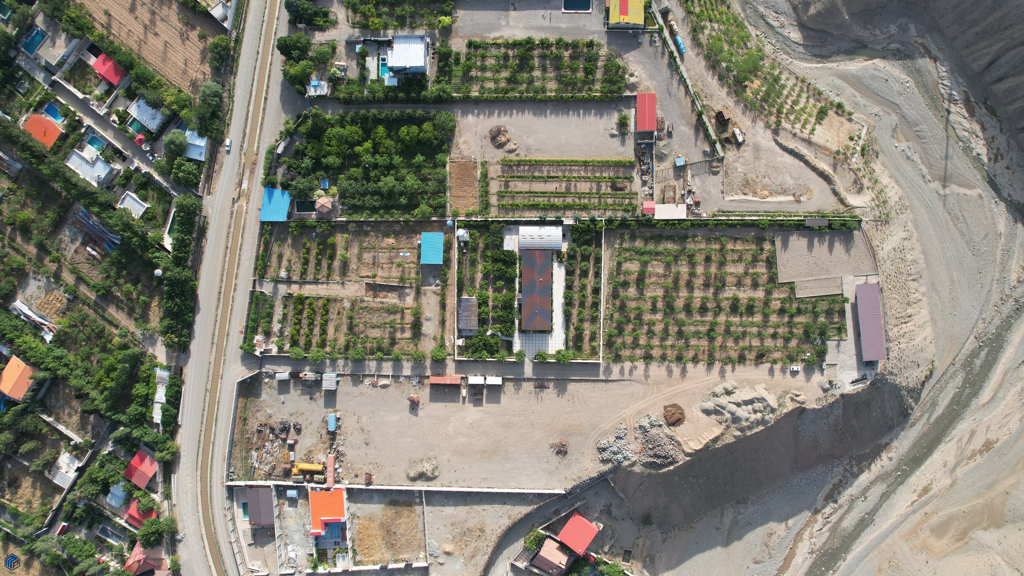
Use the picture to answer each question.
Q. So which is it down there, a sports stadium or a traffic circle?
sports stadium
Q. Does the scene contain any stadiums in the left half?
No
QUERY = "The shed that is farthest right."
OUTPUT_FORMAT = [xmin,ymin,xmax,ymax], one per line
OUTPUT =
[851,284,885,361]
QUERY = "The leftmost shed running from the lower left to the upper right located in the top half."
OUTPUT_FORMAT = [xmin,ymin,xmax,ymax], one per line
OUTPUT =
[54,39,84,65]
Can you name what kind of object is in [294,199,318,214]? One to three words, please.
swimming pool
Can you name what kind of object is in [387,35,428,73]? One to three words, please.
house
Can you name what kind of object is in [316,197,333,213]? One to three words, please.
gazebo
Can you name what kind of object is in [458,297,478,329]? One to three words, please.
shed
